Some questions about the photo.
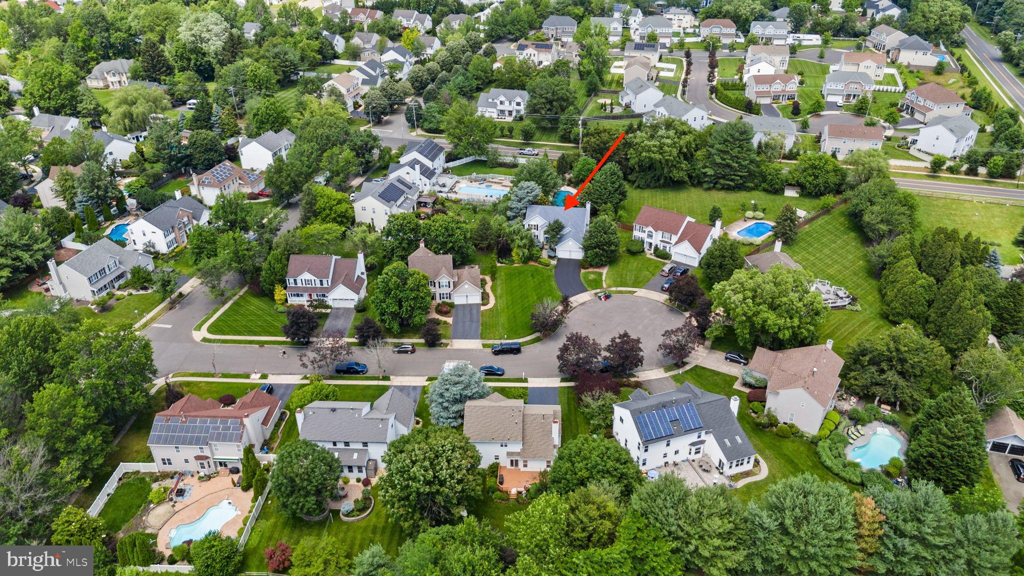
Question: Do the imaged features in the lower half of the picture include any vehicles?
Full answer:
Yes, there is a vehicle in the lower half of the picture.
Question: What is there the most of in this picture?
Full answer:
The largest share of the image is taken up by trees.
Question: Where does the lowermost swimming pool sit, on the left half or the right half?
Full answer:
The lowermost swimming pool is on the left side of the image.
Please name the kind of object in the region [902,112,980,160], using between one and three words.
house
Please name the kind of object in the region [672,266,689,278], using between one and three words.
vehicle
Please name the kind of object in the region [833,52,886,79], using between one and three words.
house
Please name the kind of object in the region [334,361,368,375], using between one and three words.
vehicle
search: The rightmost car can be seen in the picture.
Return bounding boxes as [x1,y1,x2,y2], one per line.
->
[1002,459,1024,482]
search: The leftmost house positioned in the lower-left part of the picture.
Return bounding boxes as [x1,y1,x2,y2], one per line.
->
[146,390,288,476]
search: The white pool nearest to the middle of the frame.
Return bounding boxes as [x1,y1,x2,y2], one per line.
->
[455,183,510,198]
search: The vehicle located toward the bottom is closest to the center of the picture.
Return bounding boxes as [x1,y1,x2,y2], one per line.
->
[492,340,521,354]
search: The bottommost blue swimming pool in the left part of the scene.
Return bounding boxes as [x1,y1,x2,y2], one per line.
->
[108,223,130,240]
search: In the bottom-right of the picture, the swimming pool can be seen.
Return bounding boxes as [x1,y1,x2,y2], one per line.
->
[850,429,902,469]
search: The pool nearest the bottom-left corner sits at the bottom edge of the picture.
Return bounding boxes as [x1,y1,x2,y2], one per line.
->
[168,498,240,551]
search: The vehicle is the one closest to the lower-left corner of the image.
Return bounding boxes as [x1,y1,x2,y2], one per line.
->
[258,380,273,396]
